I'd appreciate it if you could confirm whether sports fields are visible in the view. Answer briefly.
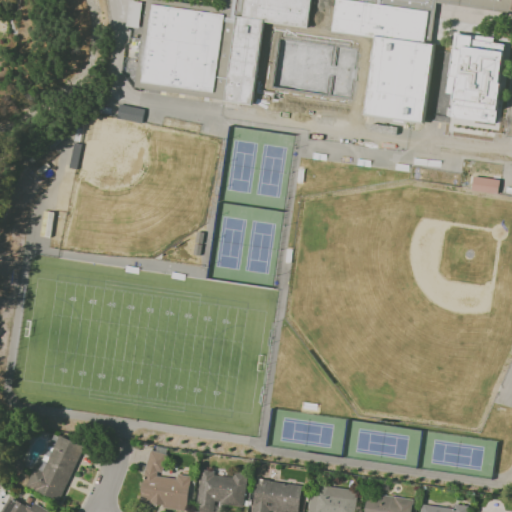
Yes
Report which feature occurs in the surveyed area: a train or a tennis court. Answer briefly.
tennis court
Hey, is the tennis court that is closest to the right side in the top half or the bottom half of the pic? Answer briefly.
bottom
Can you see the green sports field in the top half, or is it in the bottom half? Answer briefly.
bottom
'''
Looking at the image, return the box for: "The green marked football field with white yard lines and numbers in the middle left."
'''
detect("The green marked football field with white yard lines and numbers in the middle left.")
[17,254,276,436]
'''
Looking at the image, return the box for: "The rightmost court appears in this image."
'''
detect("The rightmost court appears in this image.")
[422,432,499,479]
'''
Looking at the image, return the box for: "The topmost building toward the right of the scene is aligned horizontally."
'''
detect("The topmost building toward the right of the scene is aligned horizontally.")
[330,0,430,42]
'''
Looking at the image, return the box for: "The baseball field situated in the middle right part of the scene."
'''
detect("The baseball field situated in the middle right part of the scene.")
[290,188,512,428]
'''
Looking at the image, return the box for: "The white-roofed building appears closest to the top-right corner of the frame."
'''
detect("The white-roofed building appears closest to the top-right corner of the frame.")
[444,32,504,125]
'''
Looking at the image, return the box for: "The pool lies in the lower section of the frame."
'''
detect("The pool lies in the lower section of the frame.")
[28,436,50,466]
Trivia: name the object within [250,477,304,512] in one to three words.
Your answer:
house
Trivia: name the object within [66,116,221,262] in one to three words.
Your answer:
baseball field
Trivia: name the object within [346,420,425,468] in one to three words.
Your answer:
tennis court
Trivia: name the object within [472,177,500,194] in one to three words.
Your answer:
building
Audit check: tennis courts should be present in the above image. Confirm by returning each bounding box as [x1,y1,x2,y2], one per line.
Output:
[422,432,499,479]
[242,206,288,289]
[222,126,264,205]
[346,420,425,468]
[268,408,348,457]
[255,130,298,210]
[207,200,255,284]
